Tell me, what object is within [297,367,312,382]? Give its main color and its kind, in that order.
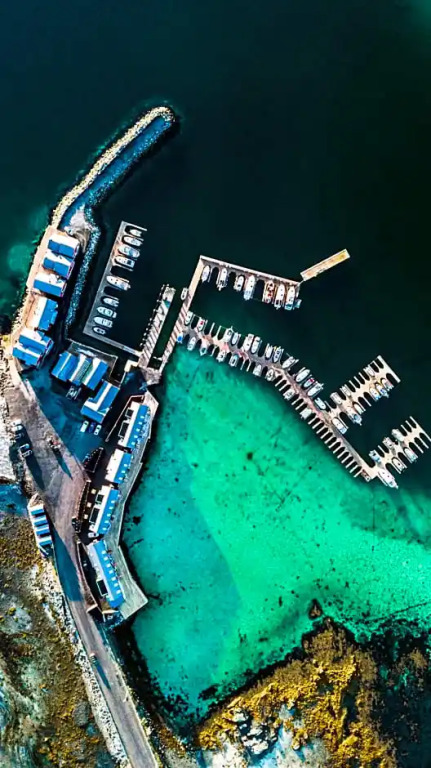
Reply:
white boat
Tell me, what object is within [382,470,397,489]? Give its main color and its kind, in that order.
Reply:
white boat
